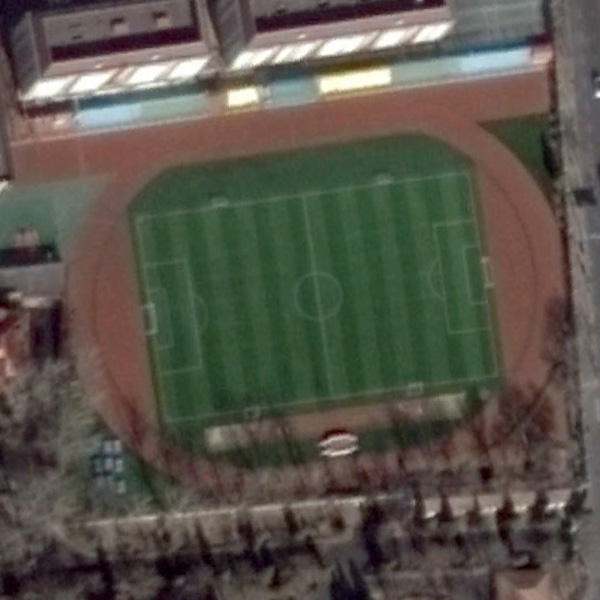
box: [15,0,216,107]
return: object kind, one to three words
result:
building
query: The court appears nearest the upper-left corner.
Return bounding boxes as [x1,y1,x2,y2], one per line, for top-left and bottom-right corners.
[0,175,114,269]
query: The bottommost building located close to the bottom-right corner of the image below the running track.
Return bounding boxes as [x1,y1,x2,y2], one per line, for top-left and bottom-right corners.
[490,568,553,600]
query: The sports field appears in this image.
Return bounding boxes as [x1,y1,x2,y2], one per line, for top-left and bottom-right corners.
[126,129,507,468]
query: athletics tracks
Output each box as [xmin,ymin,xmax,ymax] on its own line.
[5,65,564,491]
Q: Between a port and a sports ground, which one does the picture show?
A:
sports ground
